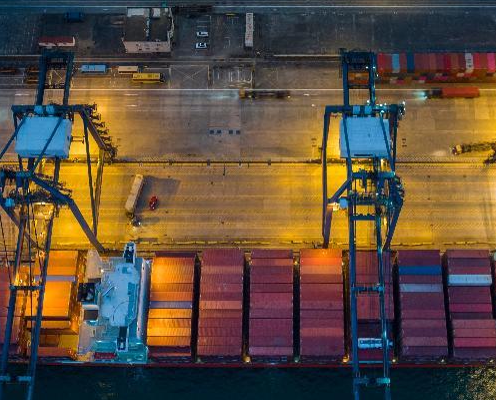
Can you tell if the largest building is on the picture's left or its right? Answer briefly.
left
